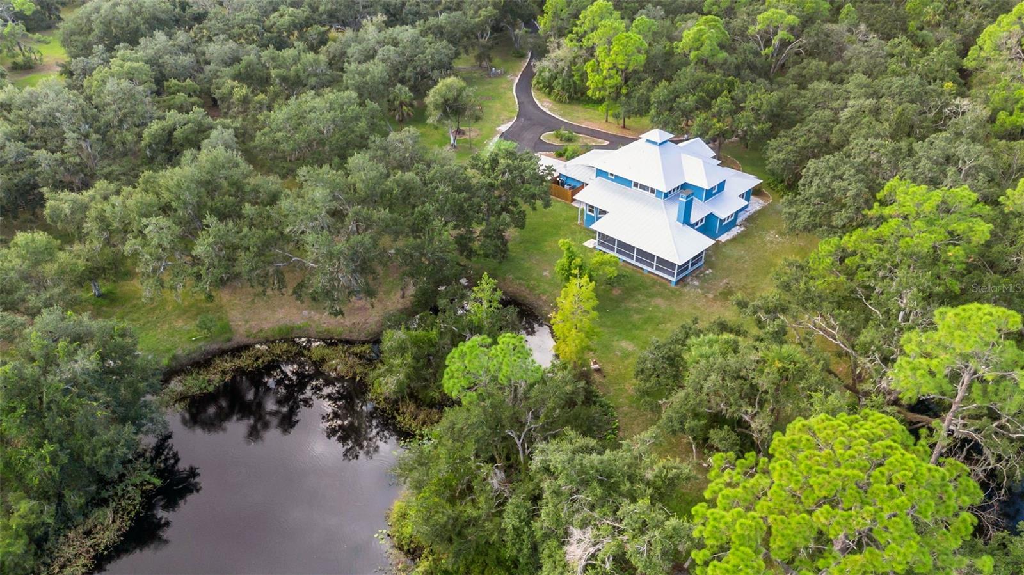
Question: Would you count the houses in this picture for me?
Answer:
1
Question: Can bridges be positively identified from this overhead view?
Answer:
No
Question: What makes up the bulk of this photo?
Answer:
trees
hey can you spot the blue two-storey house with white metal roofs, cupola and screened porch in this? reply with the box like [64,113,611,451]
[525,128,763,281]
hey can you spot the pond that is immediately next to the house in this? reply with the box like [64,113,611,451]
[80,290,557,575]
